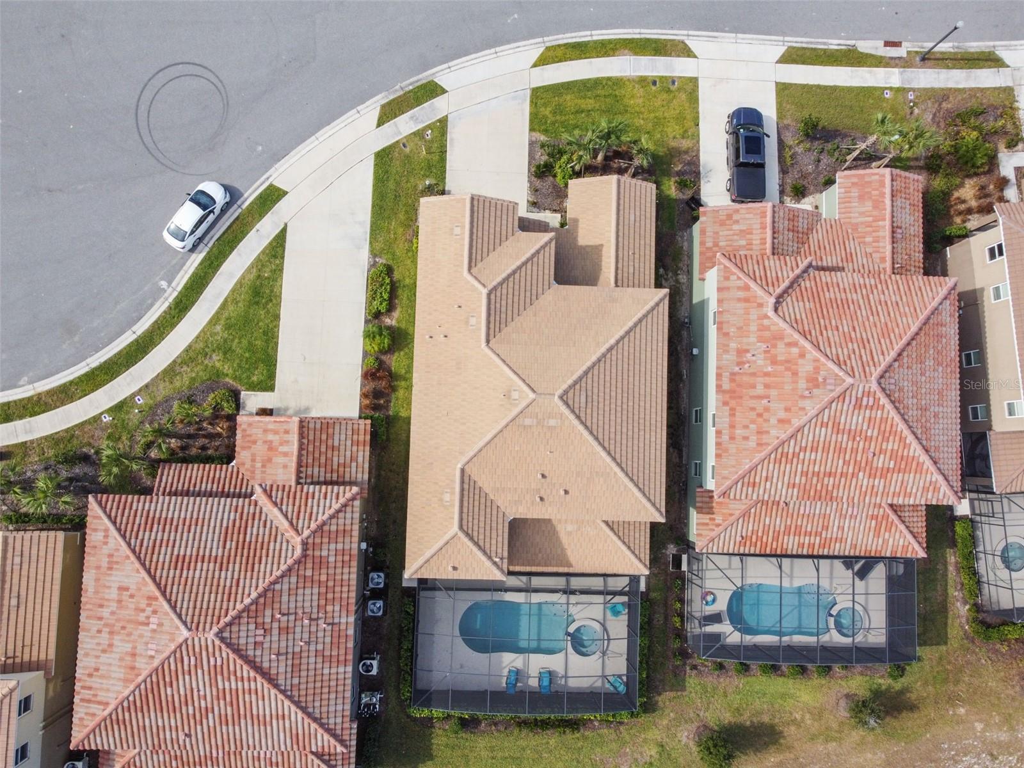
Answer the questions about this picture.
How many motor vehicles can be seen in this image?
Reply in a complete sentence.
In total, there are 2 motor vehicles in the scene.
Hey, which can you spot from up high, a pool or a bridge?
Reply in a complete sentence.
Looking from above, you can make out a pool.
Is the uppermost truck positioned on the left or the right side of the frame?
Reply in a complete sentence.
You can find the uppermost truck on the right side of the picture.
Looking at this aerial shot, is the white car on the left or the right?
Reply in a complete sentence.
You can find the white car on the left side of the picture.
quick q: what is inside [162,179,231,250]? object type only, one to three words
car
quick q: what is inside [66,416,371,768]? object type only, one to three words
house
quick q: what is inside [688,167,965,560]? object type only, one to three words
house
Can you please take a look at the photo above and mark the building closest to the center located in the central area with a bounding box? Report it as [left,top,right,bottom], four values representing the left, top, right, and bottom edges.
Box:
[402,175,672,582]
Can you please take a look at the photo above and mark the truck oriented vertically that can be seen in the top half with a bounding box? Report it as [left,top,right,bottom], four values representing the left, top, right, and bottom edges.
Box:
[728,108,771,203]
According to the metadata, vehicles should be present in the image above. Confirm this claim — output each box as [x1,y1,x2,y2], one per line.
[162,179,231,250]
[728,108,771,203]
